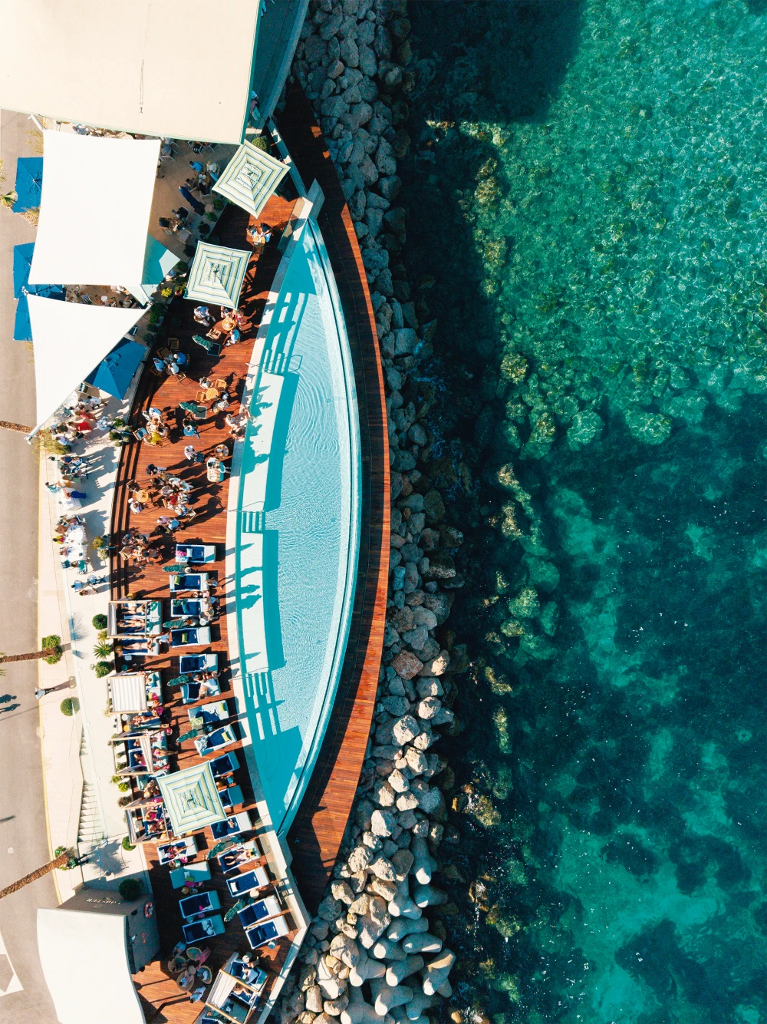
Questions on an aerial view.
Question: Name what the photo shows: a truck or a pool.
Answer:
pool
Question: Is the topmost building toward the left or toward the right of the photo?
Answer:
left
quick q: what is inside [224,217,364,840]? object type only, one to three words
swimming pool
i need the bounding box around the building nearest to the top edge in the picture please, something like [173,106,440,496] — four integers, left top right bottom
[0,0,266,158]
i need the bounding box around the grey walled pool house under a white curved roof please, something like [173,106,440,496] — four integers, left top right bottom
[37,885,161,1024]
